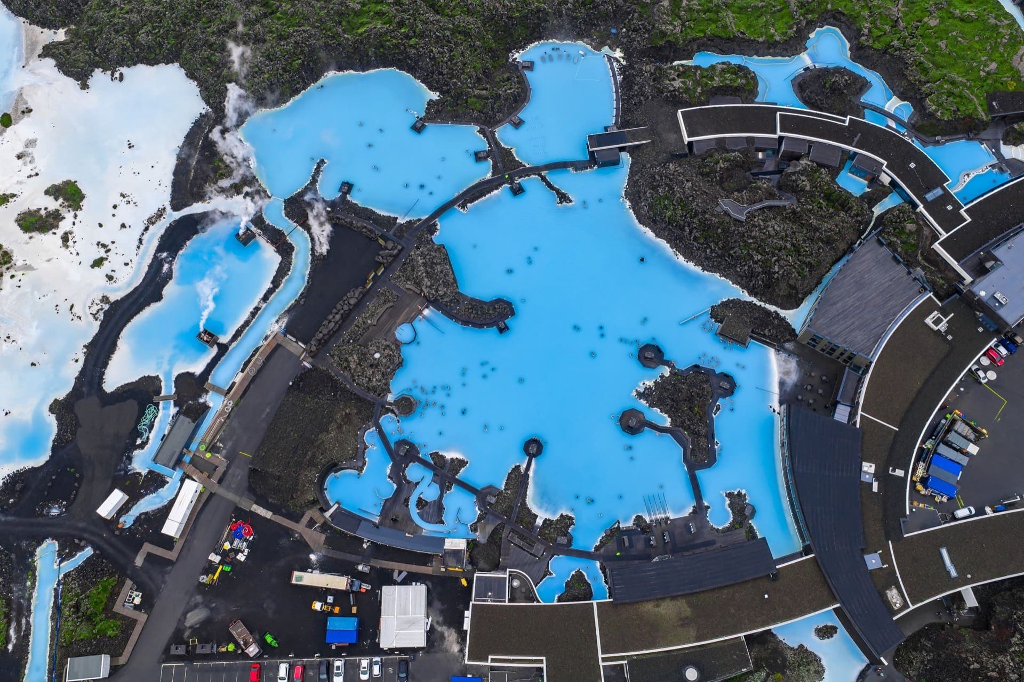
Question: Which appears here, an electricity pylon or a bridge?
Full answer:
This aerial view contains a bridge.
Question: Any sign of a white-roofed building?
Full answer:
Yes, you can see a white-roofed building in this photo.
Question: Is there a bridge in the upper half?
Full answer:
Yes, a bridge shows up in the upper half.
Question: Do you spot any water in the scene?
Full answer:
Yes, the picture does contain water.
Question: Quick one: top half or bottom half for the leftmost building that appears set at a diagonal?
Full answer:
The bottom half of the photo is where the leftmost building that appears set at a diagonal is.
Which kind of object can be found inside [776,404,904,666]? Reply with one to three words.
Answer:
building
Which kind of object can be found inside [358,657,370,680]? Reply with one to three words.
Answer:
vehicle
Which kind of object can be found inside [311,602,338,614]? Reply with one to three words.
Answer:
vehicle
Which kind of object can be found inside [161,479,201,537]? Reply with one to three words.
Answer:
building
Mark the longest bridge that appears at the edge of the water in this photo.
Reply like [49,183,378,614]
[414,159,593,233]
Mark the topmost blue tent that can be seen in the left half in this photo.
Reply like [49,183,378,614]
[326,618,360,646]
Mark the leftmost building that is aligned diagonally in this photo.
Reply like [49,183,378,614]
[96,489,127,518]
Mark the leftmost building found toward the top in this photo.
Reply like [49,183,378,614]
[586,126,651,166]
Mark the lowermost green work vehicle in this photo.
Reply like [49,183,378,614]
[264,632,279,649]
